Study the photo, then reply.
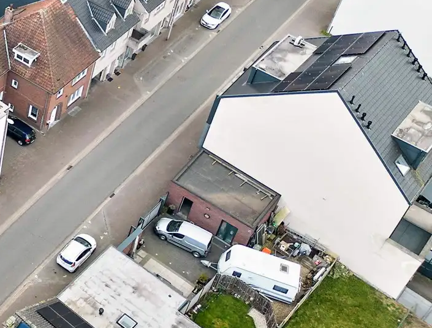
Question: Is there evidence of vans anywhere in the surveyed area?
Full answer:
Yes, there's a van down there.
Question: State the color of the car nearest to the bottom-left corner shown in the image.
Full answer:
The car nearest to the bottom-left corner is white.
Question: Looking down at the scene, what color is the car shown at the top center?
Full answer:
In this view, the car shown at the top center is white.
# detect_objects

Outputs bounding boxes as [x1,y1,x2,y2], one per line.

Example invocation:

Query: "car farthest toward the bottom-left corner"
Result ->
[53,231,100,275]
